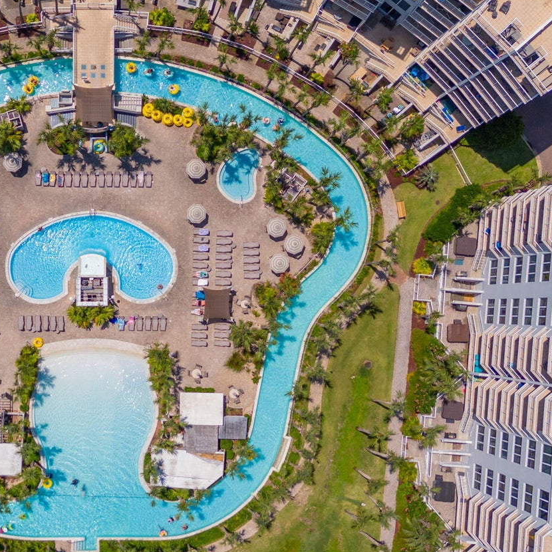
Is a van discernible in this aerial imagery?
No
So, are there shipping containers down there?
No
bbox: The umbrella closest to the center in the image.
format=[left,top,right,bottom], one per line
[268,253,290,274]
